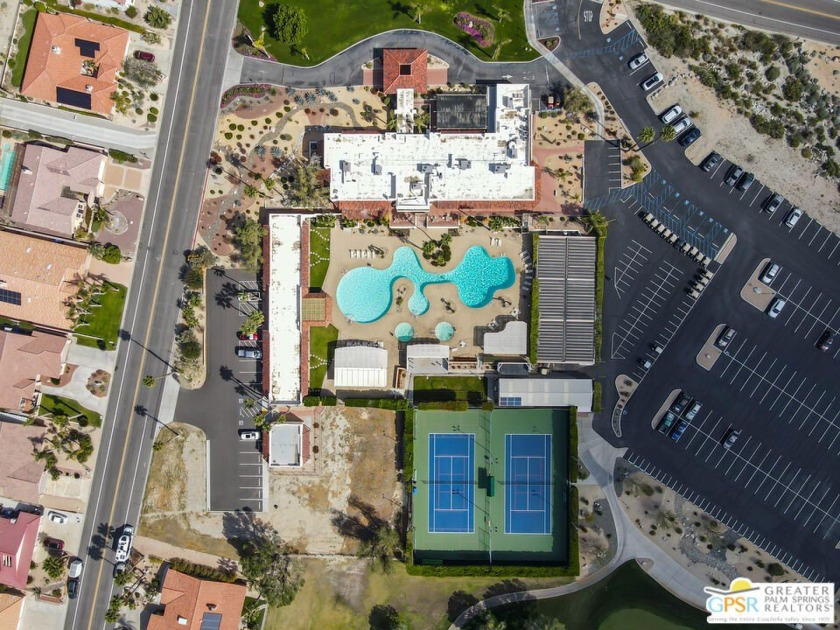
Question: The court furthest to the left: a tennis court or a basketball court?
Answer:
tennis court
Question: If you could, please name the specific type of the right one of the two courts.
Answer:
tennis court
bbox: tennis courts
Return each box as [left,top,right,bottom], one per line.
[490,408,568,562]
[413,408,490,562]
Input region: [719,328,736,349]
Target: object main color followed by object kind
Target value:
gray car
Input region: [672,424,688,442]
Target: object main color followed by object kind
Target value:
blue car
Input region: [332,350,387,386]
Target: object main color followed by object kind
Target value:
white tent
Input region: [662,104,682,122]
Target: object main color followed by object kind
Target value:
white car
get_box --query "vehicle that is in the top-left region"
[135,49,156,62]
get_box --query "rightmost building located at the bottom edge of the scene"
[146,567,249,630]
